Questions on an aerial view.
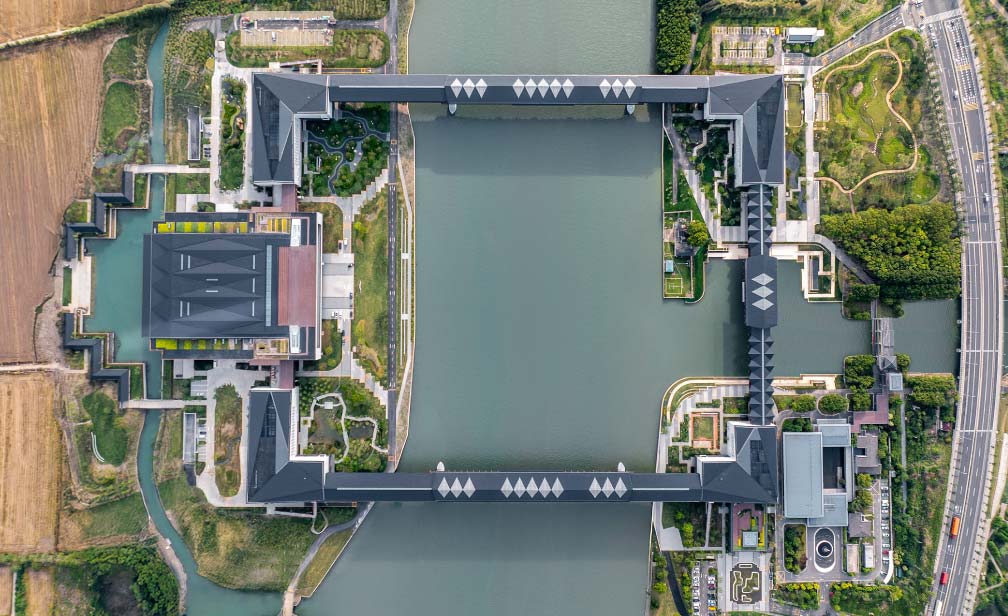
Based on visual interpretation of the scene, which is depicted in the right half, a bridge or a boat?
bridge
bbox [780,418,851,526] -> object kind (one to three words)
building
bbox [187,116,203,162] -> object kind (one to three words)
shed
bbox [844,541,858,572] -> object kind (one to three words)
shed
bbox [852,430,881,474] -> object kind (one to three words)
house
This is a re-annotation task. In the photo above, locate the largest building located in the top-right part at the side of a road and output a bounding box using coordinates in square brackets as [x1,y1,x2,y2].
[699,75,785,189]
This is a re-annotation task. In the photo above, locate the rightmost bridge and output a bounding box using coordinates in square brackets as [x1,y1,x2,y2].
[953,300,1005,377]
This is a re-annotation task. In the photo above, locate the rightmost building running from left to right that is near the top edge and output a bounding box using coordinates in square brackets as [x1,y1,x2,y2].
[785,28,824,45]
